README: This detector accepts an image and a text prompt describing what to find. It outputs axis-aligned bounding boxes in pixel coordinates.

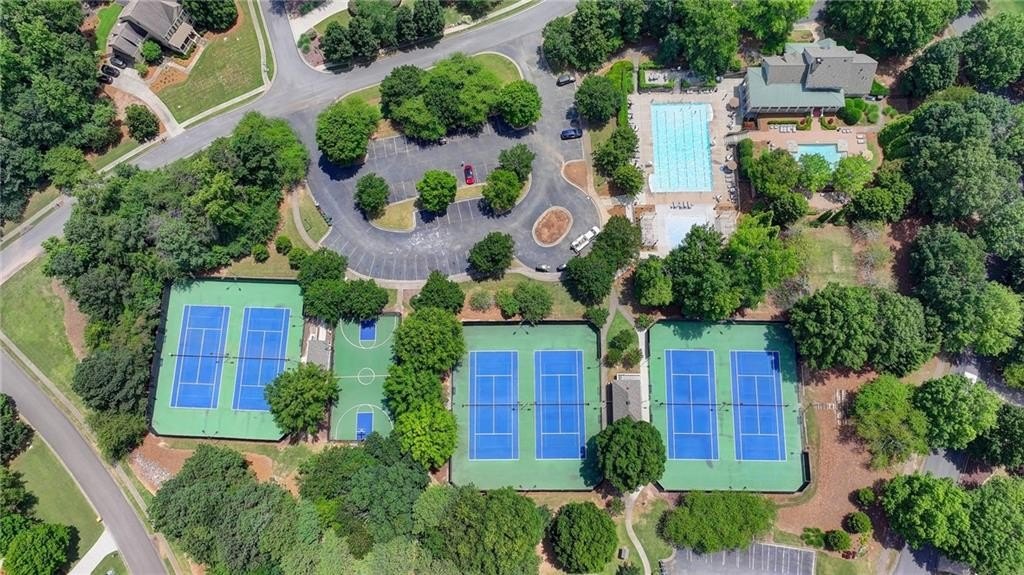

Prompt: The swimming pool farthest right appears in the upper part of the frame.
[786,143,849,181]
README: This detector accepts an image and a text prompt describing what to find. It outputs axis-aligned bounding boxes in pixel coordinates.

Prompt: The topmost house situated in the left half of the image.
[116,0,200,62]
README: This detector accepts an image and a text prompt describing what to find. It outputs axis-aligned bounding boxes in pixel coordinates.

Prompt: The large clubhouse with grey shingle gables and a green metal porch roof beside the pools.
[743,39,878,119]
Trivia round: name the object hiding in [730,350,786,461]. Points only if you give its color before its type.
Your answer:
blue tennis court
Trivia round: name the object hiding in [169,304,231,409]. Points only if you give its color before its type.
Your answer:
blue tennis court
